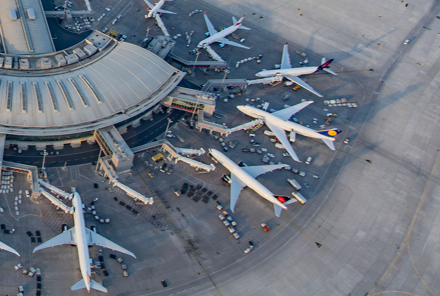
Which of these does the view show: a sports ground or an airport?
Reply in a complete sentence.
The area seen from above is an airport.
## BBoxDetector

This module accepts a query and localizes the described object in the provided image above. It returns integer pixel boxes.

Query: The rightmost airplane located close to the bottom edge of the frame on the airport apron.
[32,190,131,286]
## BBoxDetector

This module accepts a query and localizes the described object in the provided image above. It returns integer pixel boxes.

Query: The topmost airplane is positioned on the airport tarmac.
[145,0,176,18]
